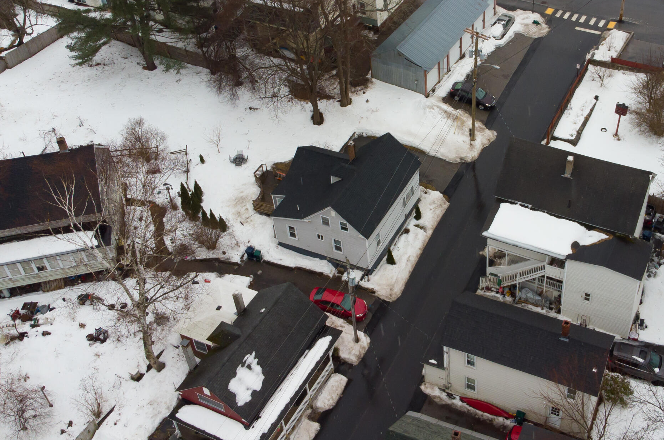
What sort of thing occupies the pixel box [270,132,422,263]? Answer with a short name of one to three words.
house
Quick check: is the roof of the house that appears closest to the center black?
Yes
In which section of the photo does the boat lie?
bottom right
